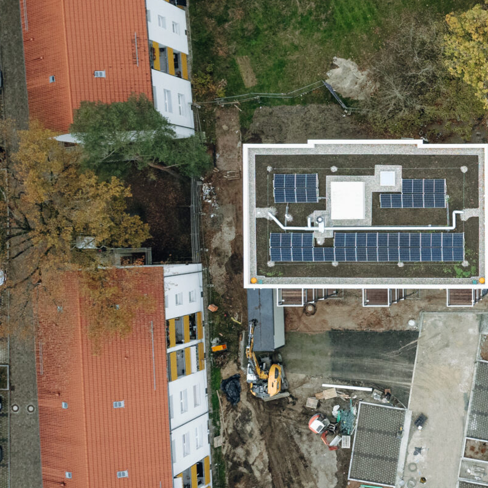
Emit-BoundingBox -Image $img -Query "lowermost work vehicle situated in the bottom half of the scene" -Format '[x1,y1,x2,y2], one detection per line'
[309,415,341,455]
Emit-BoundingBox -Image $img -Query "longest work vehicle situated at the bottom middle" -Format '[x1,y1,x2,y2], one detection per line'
[237,320,287,398]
